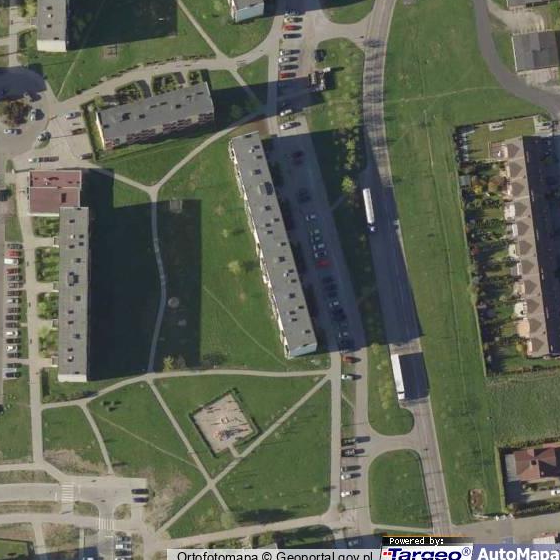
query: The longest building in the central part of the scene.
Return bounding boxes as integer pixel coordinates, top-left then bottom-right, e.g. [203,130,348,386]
[226,133,317,358]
